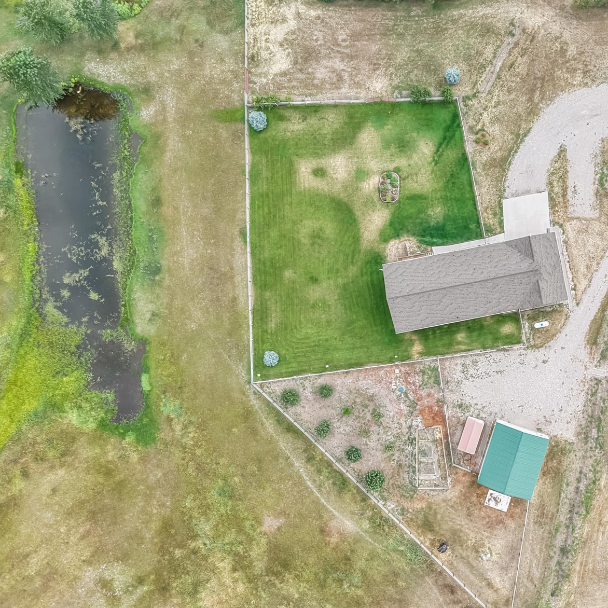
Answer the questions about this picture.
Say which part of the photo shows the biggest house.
right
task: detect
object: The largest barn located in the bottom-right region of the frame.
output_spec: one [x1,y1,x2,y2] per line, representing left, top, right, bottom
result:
[476,420,550,500]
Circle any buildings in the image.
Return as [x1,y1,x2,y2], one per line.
[458,417,485,454]
[378,228,569,334]
[476,420,550,500]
